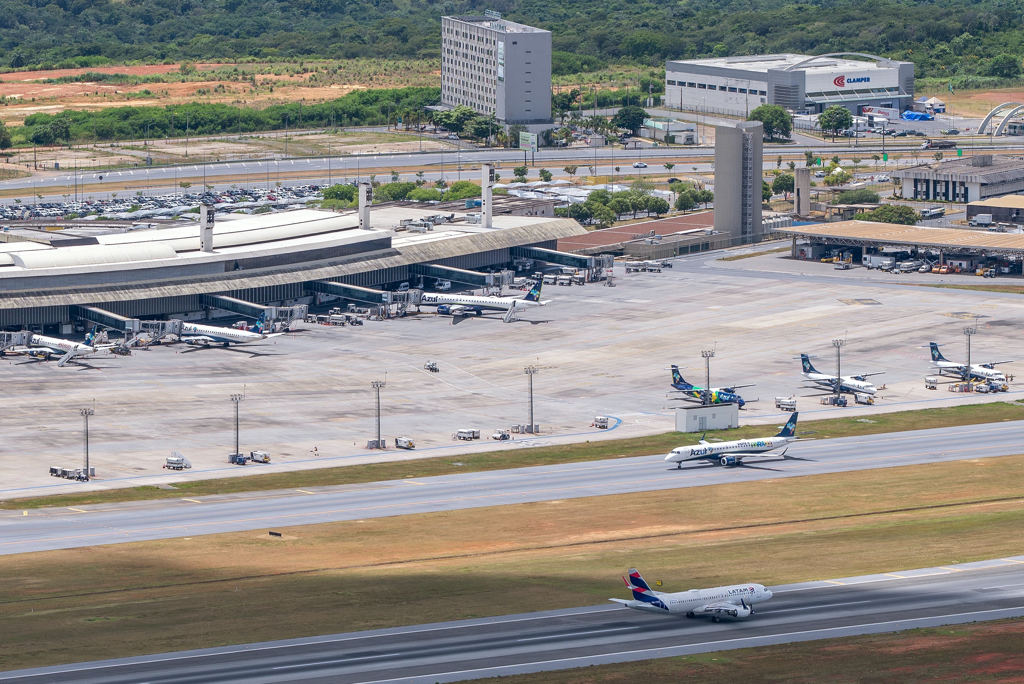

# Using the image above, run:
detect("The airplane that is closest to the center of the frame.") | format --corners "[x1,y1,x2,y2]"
[414,276,550,315]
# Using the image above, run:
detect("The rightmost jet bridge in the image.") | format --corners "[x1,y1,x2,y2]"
[518,246,616,286]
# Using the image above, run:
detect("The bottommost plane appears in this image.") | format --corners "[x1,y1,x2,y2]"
[608,566,775,621]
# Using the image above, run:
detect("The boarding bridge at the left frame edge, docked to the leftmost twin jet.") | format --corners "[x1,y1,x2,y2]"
[0,330,29,364]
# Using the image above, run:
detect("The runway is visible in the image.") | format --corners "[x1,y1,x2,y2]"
[0,564,1024,684]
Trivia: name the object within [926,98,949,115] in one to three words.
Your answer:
tent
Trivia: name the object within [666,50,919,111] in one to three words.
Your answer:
building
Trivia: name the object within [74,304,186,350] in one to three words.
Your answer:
jet bridge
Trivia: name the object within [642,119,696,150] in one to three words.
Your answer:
building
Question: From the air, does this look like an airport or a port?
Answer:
airport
